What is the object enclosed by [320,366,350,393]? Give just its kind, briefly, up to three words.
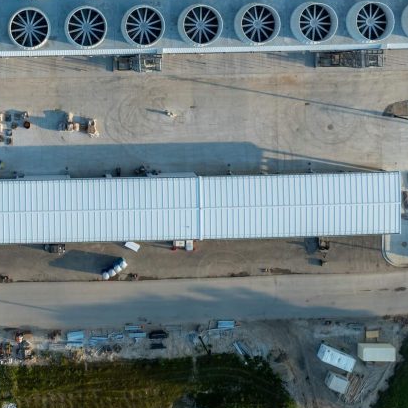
building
